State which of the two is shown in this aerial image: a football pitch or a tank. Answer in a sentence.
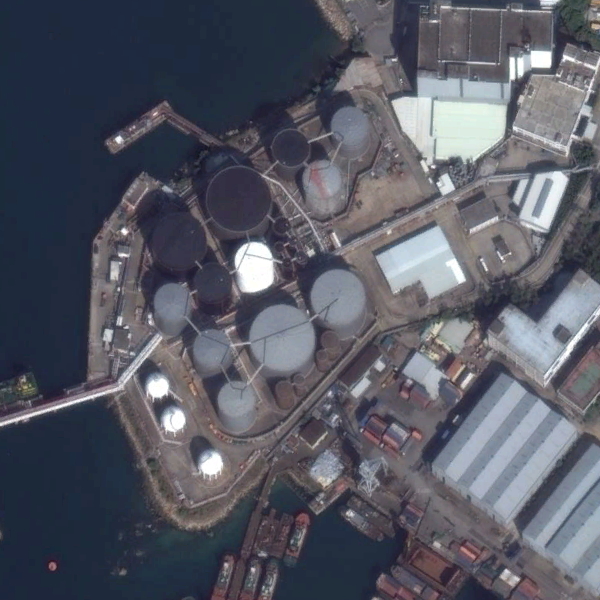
It is a tank that can be seen here.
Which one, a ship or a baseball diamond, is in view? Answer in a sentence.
This aerial view contains a ship.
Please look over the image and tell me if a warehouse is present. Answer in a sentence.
Yes, looking at the shot, I can spot a warehouse.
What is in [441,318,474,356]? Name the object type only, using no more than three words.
house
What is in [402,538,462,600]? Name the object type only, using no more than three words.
ship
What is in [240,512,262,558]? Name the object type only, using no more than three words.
pier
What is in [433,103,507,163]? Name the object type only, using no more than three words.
building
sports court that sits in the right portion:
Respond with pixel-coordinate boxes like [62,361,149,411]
[558,345,600,414]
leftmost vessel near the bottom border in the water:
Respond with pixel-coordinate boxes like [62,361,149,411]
[210,554,233,600]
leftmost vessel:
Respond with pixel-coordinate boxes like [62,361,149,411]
[0,374,39,405]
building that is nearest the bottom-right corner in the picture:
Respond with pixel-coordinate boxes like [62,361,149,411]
[521,442,600,599]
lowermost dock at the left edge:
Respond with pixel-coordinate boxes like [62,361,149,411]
[0,371,121,427]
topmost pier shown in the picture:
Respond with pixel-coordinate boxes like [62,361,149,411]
[105,101,224,154]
